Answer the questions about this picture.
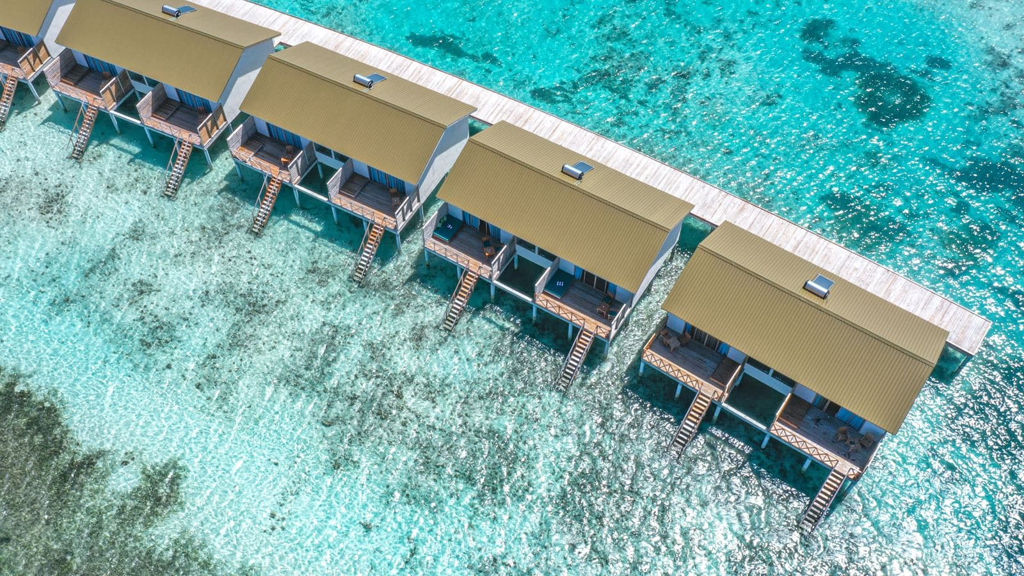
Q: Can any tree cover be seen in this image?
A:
No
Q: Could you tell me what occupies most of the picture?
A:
water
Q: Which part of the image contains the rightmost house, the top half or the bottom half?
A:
bottom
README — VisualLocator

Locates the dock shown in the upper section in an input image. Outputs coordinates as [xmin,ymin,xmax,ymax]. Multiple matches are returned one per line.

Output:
[188,0,994,370]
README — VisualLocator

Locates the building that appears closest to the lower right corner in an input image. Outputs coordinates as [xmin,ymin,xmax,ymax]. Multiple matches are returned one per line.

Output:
[640,221,948,538]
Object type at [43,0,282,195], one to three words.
house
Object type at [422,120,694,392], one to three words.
house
